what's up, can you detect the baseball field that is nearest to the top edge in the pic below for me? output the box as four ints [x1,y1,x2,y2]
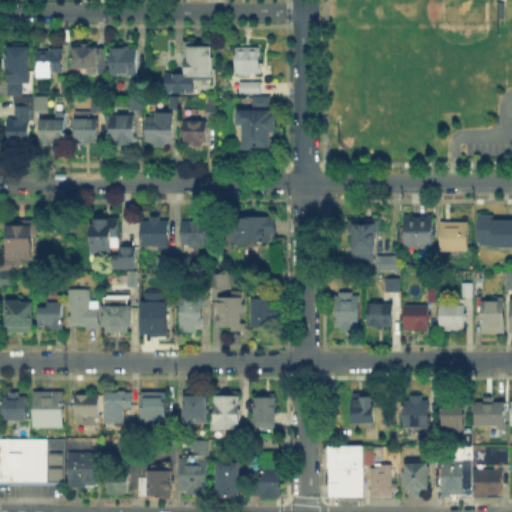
[427,0,503,52]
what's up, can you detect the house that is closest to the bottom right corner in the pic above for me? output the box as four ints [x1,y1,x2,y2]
[474,468,504,498]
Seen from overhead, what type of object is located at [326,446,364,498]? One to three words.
building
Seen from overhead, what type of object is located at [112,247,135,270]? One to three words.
building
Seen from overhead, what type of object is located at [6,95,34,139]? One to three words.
house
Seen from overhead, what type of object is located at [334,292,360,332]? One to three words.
house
